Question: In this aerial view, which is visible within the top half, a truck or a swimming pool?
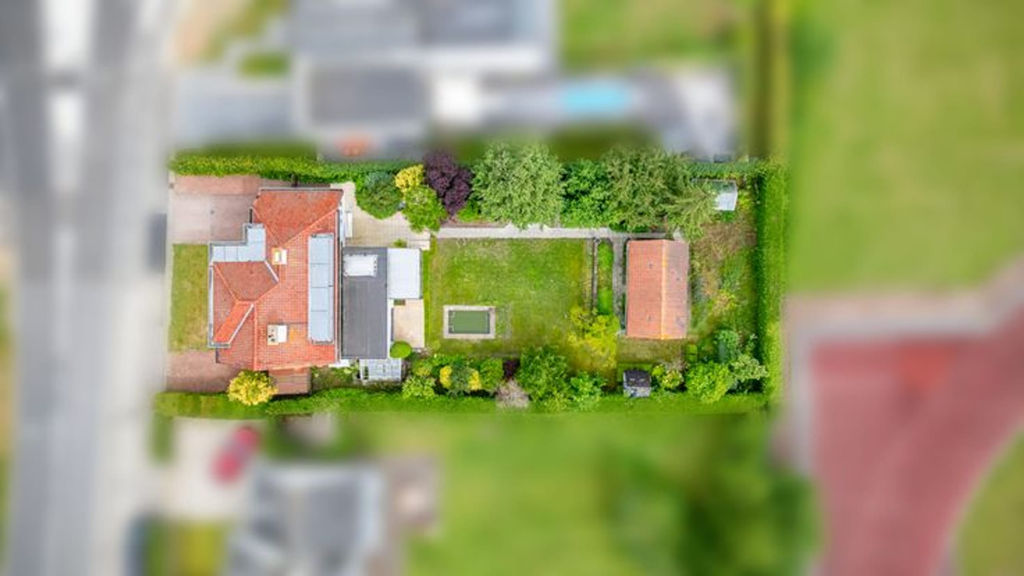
swimming pool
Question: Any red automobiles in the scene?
Yes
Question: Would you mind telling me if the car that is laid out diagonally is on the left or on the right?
left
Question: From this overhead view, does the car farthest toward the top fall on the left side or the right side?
left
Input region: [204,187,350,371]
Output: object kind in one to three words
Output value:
house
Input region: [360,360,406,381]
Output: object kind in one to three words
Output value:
greenhouse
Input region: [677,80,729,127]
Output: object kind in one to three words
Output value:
building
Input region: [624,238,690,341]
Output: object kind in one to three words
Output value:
shed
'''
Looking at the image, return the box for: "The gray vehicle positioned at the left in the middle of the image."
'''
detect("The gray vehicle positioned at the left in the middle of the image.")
[141,216,171,271]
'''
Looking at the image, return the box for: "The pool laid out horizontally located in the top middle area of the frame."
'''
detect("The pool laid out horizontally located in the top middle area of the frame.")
[558,78,639,117]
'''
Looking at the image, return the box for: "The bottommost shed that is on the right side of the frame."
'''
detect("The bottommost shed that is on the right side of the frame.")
[622,370,653,398]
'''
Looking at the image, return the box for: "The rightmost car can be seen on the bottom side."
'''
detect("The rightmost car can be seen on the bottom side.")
[214,426,261,482]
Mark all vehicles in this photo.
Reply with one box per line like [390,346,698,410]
[125,522,154,576]
[141,216,171,271]
[214,426,261,482]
